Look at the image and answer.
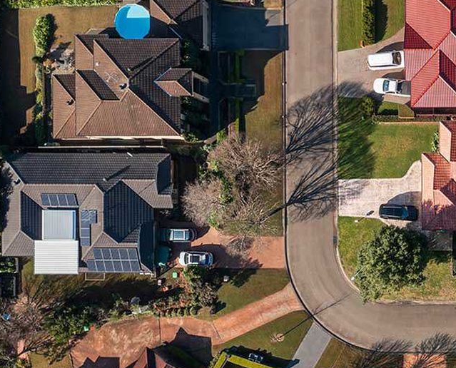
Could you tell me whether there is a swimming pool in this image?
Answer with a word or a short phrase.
Yes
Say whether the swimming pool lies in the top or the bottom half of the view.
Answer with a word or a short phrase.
top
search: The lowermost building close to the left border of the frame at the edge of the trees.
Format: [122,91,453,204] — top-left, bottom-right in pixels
[1,153,174,281]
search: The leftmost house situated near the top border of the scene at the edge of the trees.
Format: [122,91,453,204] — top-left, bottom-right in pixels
[51,0,214,138]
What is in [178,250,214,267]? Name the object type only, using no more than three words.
car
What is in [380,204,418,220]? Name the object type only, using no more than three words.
car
